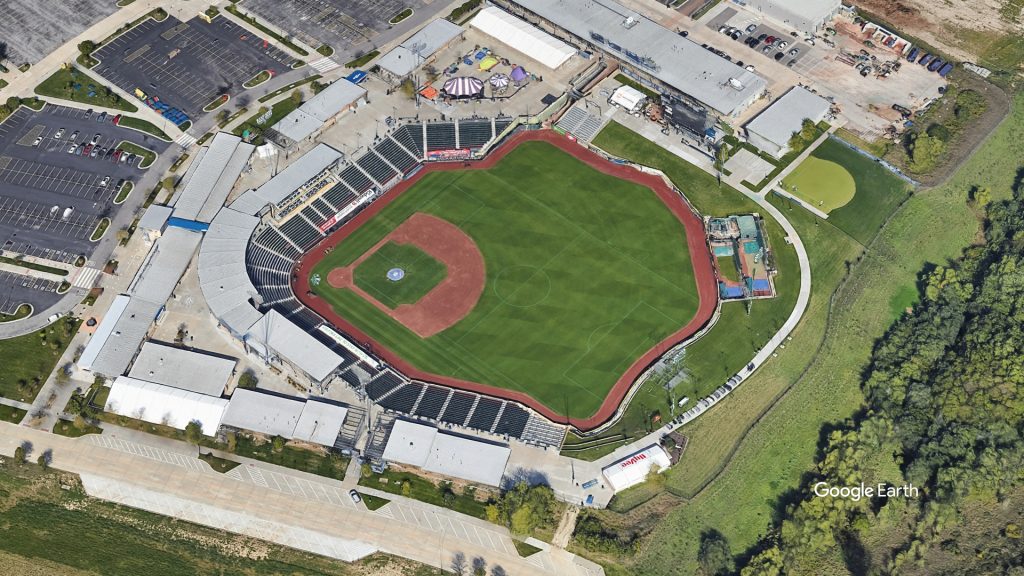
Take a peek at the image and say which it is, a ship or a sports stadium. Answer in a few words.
sports stadium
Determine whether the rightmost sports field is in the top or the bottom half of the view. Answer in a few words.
top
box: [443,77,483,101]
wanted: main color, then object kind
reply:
white tent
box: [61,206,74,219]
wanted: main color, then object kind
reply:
white vehicle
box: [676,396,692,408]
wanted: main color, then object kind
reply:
white vehicle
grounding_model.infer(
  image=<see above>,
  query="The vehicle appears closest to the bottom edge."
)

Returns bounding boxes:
[349,488,361,503]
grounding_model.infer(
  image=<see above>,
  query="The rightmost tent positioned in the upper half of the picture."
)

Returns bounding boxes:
[611,87,644,114]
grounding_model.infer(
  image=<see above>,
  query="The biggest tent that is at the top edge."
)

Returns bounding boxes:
[467,3,576,76]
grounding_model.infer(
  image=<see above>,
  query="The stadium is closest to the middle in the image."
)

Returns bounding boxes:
[247,93,725,449]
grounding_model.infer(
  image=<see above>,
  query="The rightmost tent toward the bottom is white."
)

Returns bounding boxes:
[595,441,671,497]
